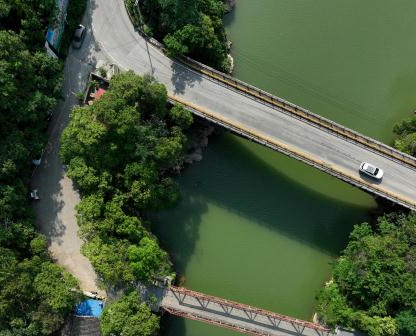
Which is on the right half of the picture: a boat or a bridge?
bridge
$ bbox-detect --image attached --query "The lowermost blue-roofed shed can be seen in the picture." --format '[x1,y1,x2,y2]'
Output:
[74,298,105,317]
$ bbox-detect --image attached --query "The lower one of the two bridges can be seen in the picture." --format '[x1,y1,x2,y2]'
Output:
[153,285,341,336]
